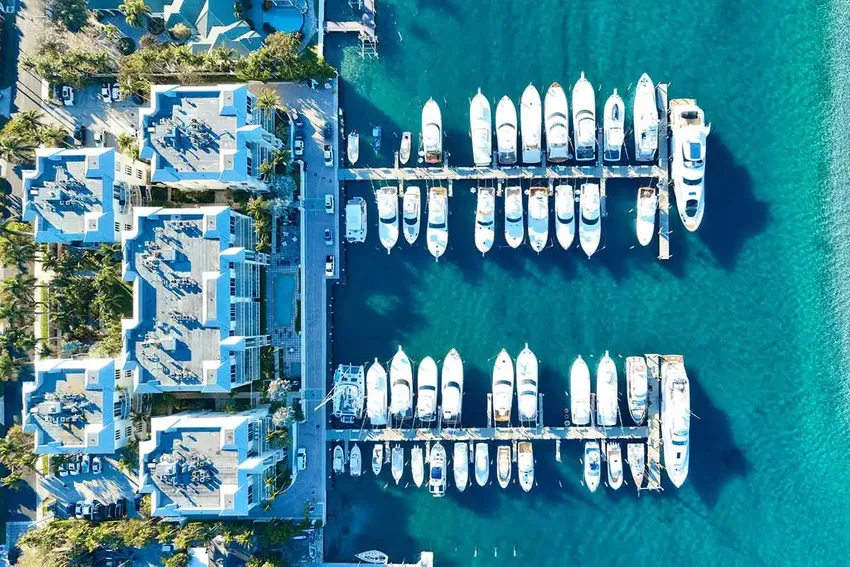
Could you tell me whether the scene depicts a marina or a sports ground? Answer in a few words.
marina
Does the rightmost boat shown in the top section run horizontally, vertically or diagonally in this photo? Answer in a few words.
vertically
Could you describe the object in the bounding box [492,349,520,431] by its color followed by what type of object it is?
white boat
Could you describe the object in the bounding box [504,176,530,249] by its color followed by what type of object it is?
white boat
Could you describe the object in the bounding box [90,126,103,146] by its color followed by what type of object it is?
white vehicle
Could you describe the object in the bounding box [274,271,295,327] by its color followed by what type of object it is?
blue swimming pool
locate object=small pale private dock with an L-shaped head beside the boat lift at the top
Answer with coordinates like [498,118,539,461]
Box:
[325,0,375,39]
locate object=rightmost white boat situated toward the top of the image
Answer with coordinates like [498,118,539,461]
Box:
[665,101,720,231]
